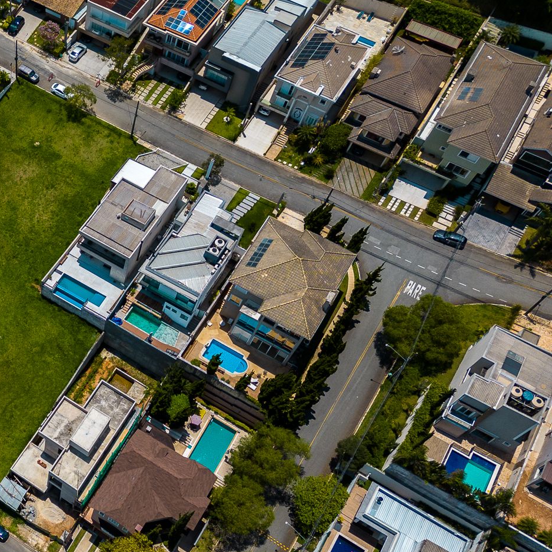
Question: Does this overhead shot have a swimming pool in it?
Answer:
Yes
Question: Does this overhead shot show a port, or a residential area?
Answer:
residential area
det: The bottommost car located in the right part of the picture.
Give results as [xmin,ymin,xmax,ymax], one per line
[436,229,467,246]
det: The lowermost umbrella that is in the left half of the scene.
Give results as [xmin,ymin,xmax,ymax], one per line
[187,414,203,431]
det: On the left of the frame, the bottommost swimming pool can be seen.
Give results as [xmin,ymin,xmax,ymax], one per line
[184,414,240,476]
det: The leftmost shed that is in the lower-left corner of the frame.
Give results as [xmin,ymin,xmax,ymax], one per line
[0,475,25,512]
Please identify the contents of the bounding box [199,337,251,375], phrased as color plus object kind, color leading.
blue swimming pool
